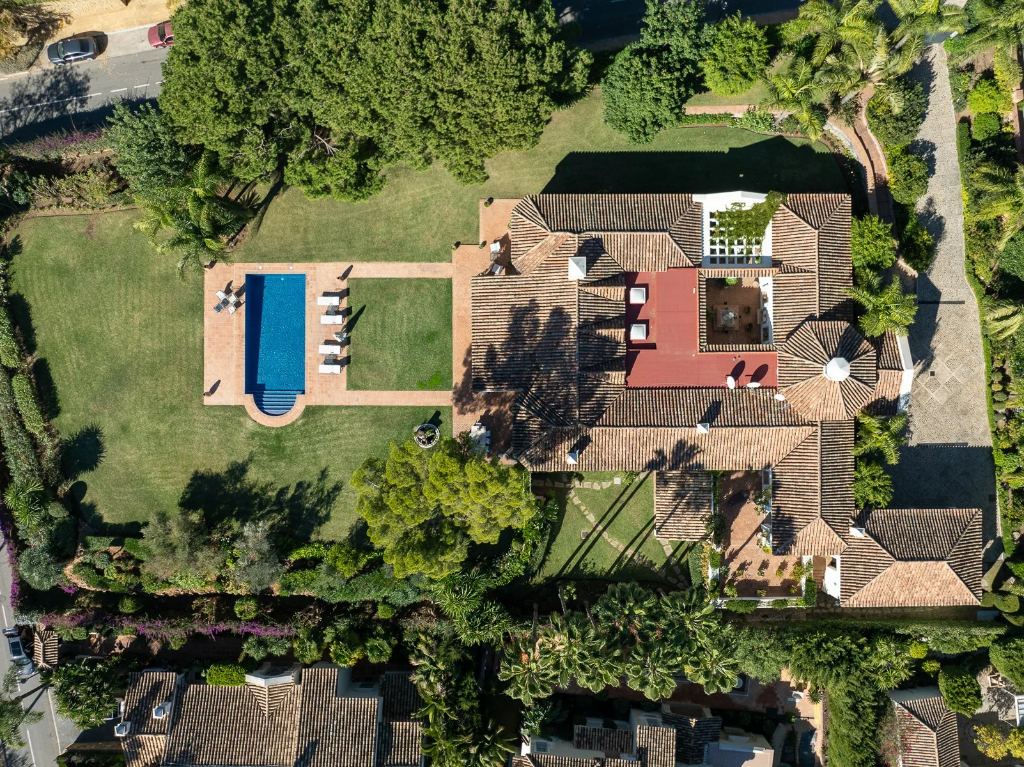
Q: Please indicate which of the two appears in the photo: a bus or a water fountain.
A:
water fountain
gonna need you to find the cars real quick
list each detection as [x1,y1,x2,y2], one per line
[42,33,96,64]
[0,628,35,683]
[142,16,194,46]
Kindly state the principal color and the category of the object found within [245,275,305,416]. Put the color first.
blue swimming pool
